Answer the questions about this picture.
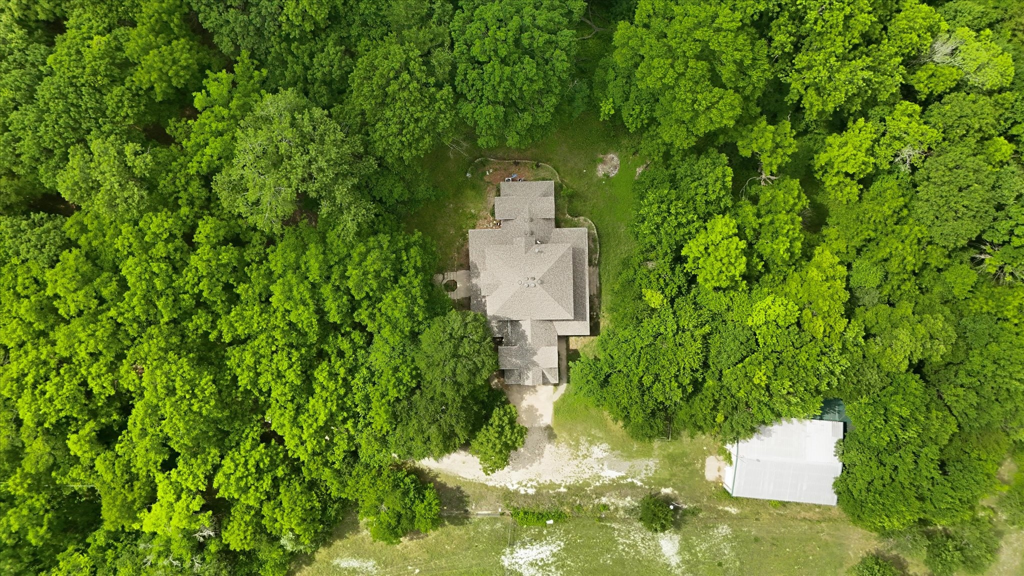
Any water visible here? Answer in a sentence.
No, the picture contains no water.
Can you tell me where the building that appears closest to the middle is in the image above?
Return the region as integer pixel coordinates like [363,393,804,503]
[468,181,590,386]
